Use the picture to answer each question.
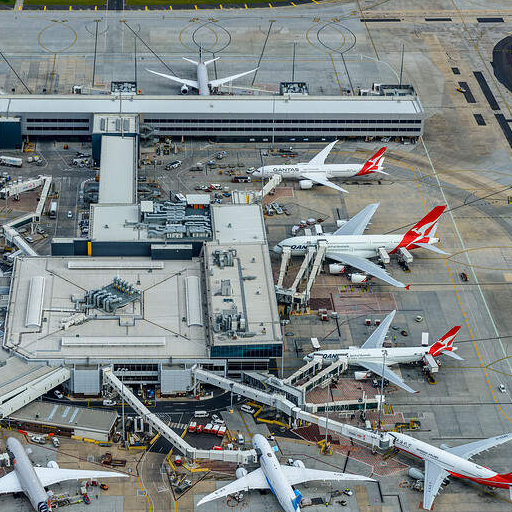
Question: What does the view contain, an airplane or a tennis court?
airplane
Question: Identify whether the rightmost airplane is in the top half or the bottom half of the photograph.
bottom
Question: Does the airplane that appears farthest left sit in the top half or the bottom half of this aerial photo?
bottom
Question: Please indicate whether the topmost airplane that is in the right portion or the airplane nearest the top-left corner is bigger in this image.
the topmost airplane that is in the right portion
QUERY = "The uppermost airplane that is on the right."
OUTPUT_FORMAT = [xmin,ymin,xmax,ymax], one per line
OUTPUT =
[252,139,392,191]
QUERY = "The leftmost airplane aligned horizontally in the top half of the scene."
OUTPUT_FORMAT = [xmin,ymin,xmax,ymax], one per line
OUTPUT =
[146,38,258,94]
